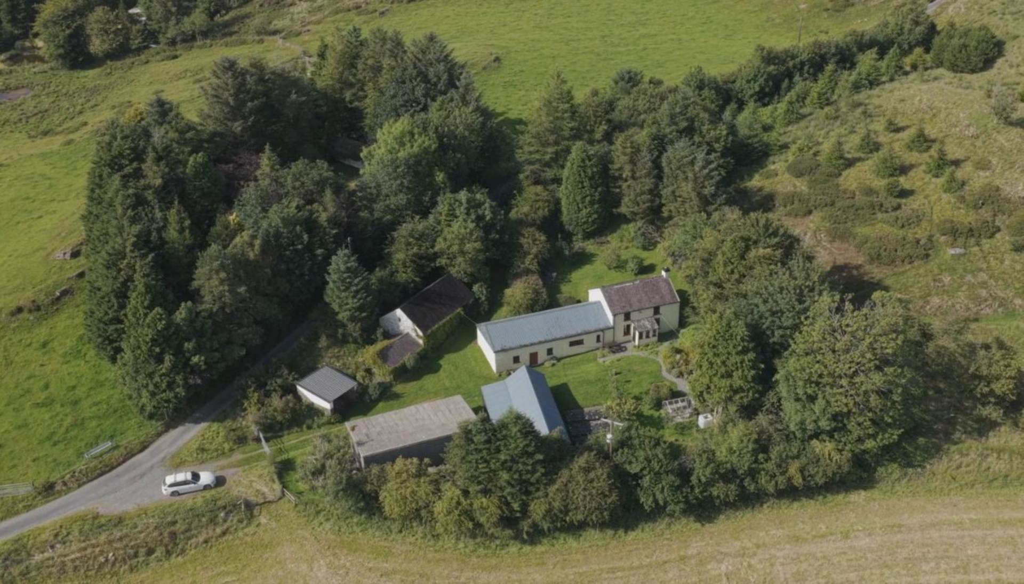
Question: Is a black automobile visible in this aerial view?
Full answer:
No, the scene contains no black automobile.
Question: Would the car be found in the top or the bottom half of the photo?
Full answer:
It is in the bottom half that the car appears.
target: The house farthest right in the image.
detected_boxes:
[587,263,683,344]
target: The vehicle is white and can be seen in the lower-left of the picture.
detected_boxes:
[162,467,217,494]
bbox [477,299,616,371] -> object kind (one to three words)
shed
